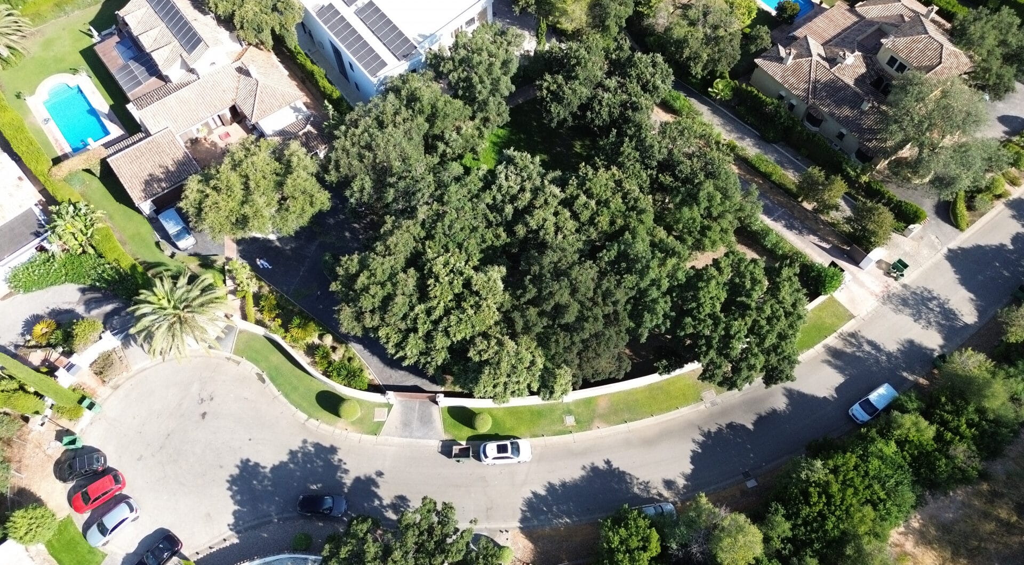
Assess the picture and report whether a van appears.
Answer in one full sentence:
Yes, there's a van here.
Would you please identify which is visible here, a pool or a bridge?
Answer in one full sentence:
It is a pool that can be seen here.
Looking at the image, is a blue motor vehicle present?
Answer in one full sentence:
Yes, a blue motor vehicle is visible in the scene.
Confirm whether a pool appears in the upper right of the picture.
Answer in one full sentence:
Yes, in the upper right of the picture there is a pool.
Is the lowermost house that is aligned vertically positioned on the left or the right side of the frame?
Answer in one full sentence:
The lowermost house that is aligned vertically appears in the left half of the scene.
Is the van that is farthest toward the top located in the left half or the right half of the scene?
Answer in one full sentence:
You can find the van that is farthest toward the top on the left side of the picture.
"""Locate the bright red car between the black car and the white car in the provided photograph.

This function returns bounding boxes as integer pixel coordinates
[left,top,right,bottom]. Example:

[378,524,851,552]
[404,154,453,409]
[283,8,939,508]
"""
[72,469,131,513]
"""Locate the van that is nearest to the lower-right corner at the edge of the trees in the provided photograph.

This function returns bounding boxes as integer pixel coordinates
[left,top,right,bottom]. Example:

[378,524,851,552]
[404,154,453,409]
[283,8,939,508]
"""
[845,381,904,423]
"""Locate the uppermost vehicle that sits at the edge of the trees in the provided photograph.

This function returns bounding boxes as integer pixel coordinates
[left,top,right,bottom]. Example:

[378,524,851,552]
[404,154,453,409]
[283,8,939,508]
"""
[152,205,198,253]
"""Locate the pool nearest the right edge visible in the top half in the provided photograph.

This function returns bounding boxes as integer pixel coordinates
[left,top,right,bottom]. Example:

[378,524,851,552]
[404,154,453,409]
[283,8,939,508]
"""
[759,0,816,21]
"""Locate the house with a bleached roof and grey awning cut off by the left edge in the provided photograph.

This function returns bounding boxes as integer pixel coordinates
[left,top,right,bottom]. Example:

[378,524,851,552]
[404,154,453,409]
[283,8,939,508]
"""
[0,150,59,280]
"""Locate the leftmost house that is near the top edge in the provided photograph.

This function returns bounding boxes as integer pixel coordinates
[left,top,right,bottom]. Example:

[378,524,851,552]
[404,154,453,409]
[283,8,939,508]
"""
[94,0,332,219]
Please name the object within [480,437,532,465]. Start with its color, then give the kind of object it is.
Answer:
white car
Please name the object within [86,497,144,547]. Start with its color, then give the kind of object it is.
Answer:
white car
